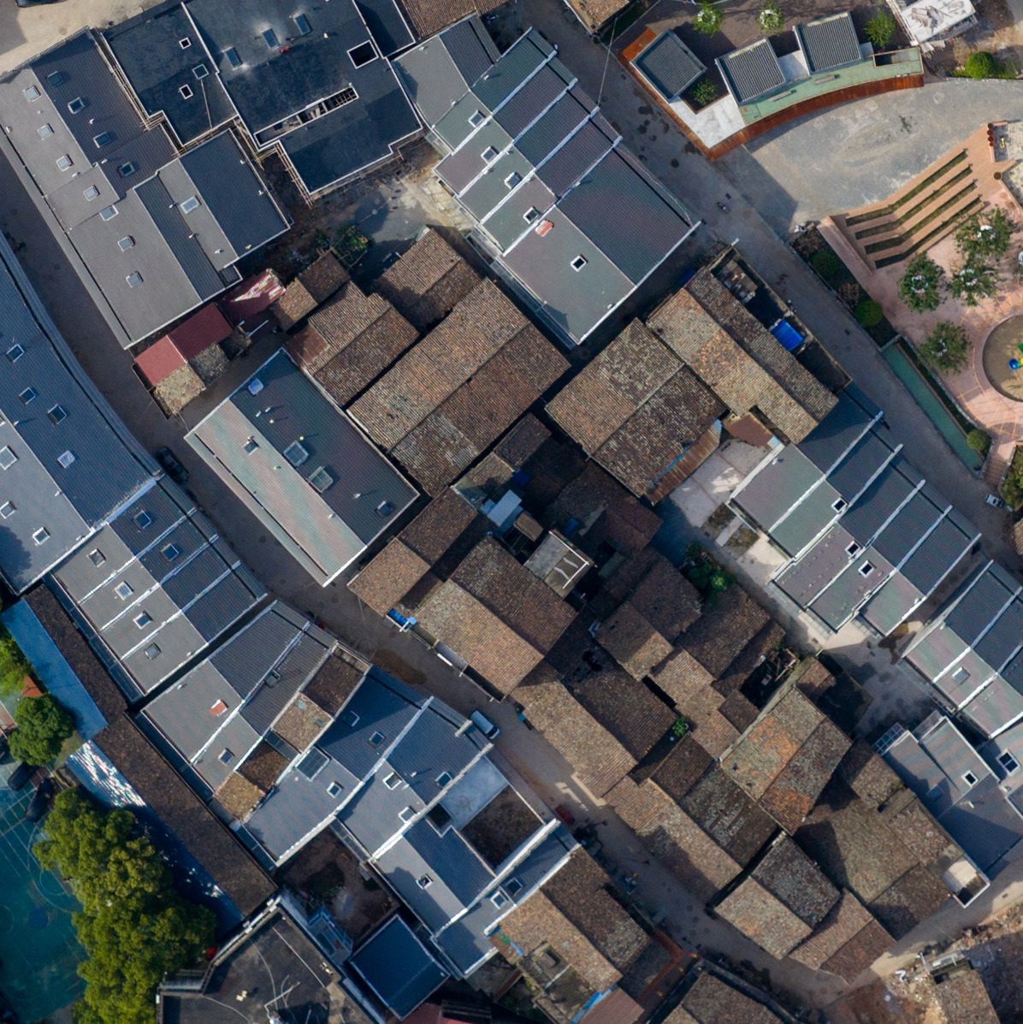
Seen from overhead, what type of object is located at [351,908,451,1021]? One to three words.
building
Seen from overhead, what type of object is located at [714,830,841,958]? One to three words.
house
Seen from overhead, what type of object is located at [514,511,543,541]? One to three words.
shed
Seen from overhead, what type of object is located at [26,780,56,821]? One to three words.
car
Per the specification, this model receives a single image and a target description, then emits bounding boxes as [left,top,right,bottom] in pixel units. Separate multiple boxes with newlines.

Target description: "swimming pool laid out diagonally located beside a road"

[883,345,981,474]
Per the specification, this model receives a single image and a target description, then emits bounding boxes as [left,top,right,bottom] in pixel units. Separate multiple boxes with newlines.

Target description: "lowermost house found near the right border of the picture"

[928,964,1000,1024]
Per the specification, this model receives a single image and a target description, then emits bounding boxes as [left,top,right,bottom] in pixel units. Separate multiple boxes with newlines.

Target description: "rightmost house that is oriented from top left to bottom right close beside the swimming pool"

[646,268,834,441]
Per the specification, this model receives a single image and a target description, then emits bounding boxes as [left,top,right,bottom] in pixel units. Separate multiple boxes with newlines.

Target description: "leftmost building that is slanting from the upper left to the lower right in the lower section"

[1,585,129,742]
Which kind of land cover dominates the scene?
buildings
